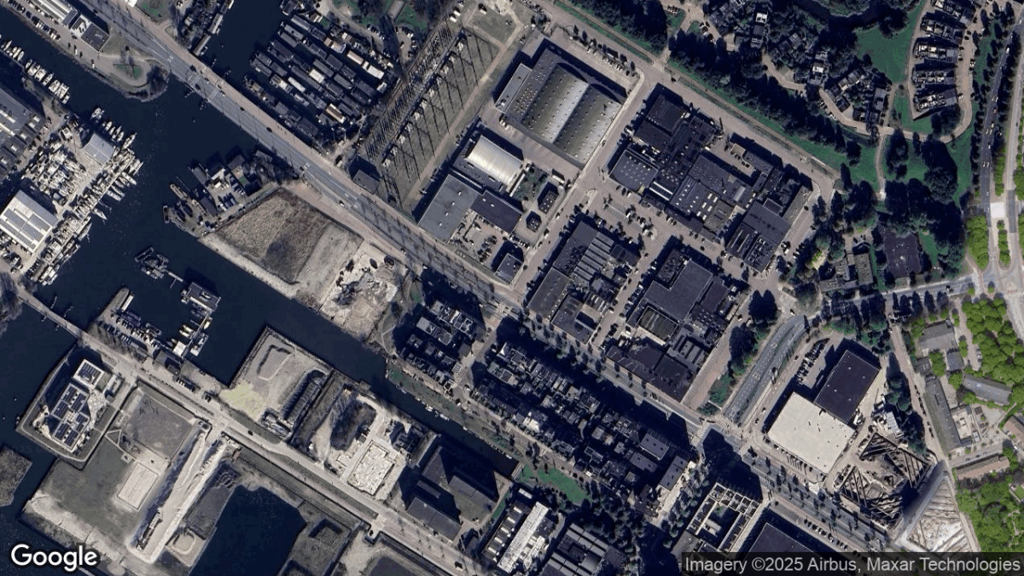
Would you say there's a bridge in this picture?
Yes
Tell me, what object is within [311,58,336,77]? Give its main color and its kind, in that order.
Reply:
gray boat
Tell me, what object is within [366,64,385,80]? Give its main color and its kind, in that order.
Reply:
white boat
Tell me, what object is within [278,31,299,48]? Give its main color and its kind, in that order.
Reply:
gray boat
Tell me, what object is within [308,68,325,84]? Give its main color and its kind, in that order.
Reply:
white boat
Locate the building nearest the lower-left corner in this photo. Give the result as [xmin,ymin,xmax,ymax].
[51,381,92,449]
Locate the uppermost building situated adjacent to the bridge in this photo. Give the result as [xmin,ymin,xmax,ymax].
[0,188,60,253]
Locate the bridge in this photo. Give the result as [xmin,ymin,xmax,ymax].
[21,285,85,337]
